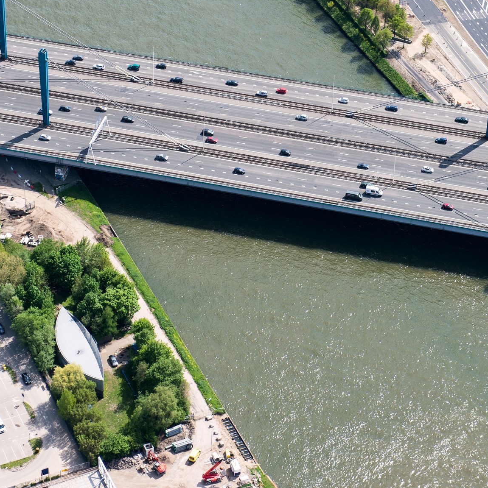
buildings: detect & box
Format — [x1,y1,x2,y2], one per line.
[30,456,115,488]
[55,307,104,397]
